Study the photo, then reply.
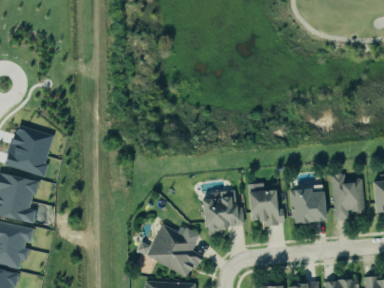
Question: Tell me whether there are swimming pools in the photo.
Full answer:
Yes, there's a swimming pool here.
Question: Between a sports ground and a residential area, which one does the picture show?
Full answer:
The area seen from above is a residential area.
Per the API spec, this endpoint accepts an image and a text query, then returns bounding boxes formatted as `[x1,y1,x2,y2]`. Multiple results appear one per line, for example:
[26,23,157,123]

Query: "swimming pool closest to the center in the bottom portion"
[195,179,232,201]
